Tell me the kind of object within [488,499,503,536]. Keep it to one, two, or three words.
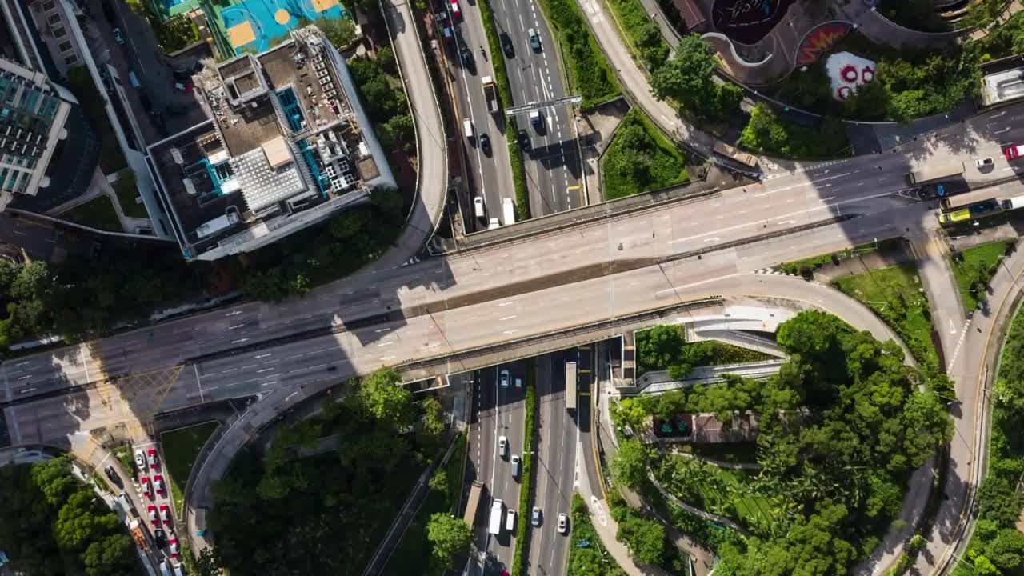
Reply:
vehicle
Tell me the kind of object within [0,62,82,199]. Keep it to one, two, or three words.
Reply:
building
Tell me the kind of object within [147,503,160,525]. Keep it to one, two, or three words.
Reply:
vehicle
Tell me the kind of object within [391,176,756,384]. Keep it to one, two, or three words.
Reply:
overpass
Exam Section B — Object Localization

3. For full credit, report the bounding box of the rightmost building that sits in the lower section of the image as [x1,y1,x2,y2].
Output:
[693,413,757,443]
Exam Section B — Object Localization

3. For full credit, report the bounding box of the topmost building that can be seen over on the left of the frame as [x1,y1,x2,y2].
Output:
[29,0,95,86]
